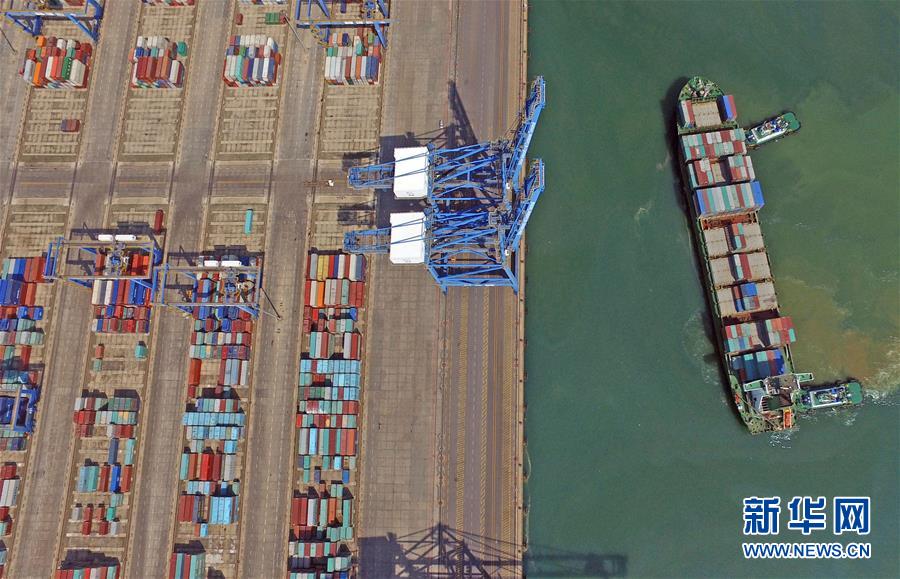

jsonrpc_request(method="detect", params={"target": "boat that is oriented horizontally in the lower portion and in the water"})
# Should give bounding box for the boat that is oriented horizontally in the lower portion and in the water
[800,381,864,410]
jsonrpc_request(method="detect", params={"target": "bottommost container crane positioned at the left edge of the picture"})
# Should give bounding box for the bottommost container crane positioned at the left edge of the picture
[0,381,43,440]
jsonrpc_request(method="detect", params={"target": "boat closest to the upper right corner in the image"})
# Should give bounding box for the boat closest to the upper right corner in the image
[750,113,802,150]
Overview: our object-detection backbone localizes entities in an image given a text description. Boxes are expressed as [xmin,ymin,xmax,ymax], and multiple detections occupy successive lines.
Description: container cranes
[0,0,106,43]
[346,81,549,229]
[295,0,397,51]
[0,381,43,440]
[45,233,170,293]
[342,165,549,295]
[149,260,269,318]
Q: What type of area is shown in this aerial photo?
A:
port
